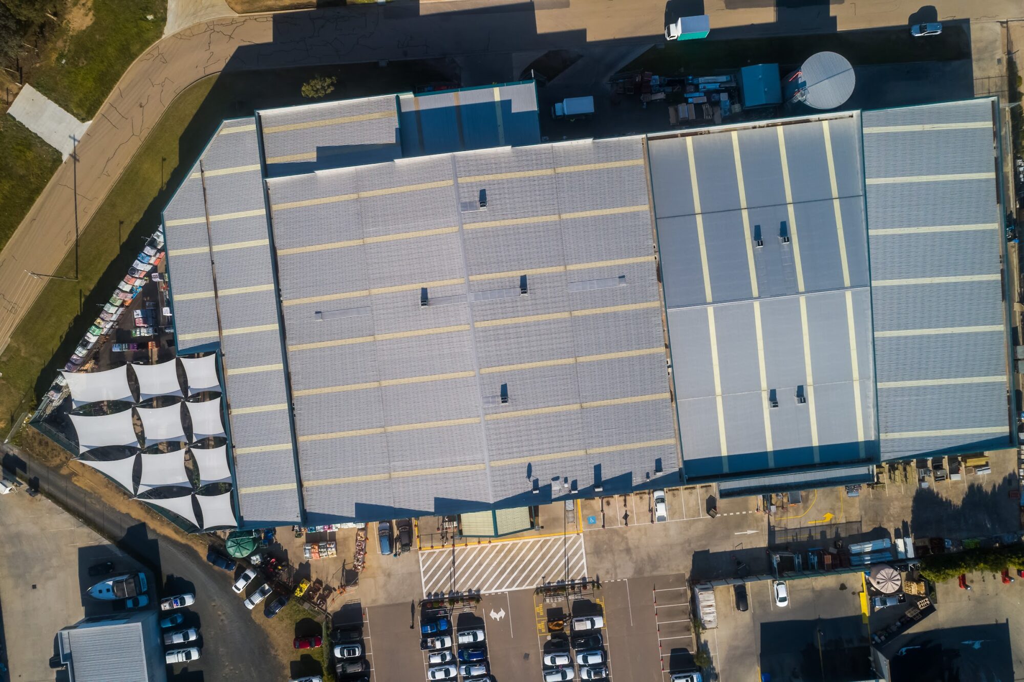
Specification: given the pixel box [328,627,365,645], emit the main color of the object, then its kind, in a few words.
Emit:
black vehicle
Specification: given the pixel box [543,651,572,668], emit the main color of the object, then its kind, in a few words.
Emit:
white car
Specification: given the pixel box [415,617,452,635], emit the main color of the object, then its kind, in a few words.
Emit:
blue vehicle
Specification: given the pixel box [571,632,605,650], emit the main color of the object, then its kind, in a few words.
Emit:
black car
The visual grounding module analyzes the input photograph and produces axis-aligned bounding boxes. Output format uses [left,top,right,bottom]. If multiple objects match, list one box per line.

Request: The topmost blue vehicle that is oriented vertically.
[377,521,393,555]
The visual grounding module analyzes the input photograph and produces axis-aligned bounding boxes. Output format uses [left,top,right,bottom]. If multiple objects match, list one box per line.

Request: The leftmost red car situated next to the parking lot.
[291,634,325,651]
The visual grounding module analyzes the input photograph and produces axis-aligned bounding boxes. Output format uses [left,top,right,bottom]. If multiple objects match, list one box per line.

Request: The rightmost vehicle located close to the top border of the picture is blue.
[908,21,943,39]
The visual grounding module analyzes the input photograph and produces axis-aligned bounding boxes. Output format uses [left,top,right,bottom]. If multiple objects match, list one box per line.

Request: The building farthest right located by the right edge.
[863,97,1018,463]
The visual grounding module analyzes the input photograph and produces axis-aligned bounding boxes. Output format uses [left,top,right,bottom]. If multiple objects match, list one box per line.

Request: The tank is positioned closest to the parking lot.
[228,528,262,558]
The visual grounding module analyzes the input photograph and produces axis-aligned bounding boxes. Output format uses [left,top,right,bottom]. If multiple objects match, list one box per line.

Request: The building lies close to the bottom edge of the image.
[58,610,166,682]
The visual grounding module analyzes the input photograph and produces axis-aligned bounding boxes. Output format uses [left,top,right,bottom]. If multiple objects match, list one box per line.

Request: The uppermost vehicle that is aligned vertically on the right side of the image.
[652,489,668,523]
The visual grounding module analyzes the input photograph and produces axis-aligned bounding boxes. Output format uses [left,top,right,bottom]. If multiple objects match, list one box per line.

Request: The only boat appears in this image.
[85,575,150,598]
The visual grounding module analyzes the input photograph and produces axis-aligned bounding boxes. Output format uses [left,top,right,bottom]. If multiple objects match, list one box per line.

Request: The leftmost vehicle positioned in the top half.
[553,94,596,118]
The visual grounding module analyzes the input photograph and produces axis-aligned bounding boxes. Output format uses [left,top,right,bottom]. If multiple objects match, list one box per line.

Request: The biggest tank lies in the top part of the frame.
[776,52,855,119]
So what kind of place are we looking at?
industrial area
